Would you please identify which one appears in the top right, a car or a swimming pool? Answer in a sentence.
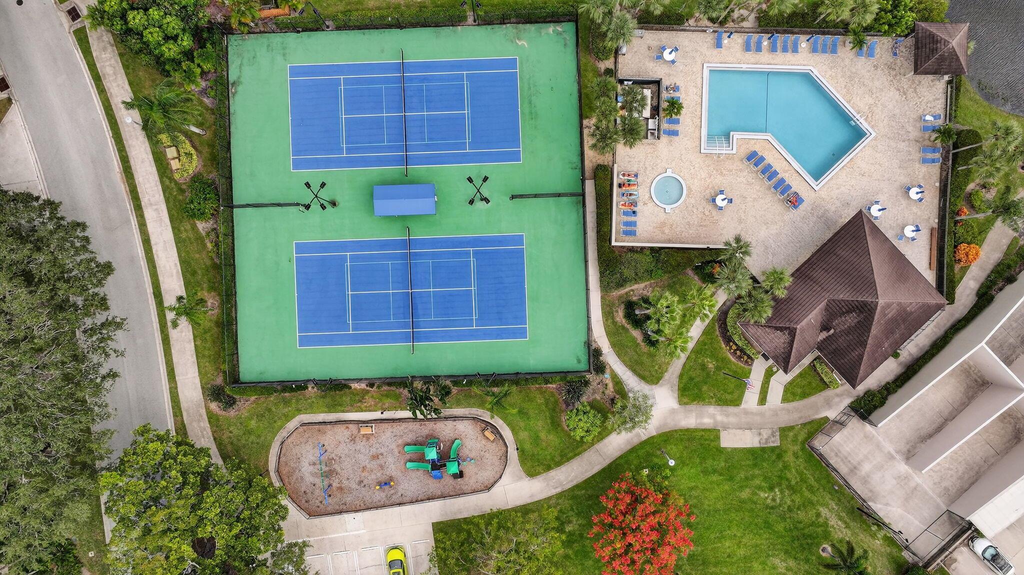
The one visible in the top right is a swimming pool.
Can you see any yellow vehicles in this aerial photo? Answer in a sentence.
Yes, you can see a yellow vehicle in this photo.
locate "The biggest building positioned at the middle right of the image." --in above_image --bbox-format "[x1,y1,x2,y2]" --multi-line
[738,209,948,389]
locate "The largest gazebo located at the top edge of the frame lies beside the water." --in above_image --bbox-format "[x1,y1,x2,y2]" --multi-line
[904,21,970,78]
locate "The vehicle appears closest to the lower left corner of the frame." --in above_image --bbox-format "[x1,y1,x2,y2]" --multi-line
[384,546,407,575]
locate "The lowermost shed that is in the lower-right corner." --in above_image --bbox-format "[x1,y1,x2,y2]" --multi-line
[949,468,1024,538]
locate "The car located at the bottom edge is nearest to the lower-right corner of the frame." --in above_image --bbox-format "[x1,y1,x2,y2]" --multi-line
[967,536,1014,575]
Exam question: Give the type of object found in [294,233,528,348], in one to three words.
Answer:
tennis court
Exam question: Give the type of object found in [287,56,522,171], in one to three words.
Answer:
tennis court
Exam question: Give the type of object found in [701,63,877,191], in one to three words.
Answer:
swimming pool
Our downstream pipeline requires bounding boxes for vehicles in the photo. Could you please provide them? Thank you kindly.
[967,536,1014,575]
[384,546,407,575]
